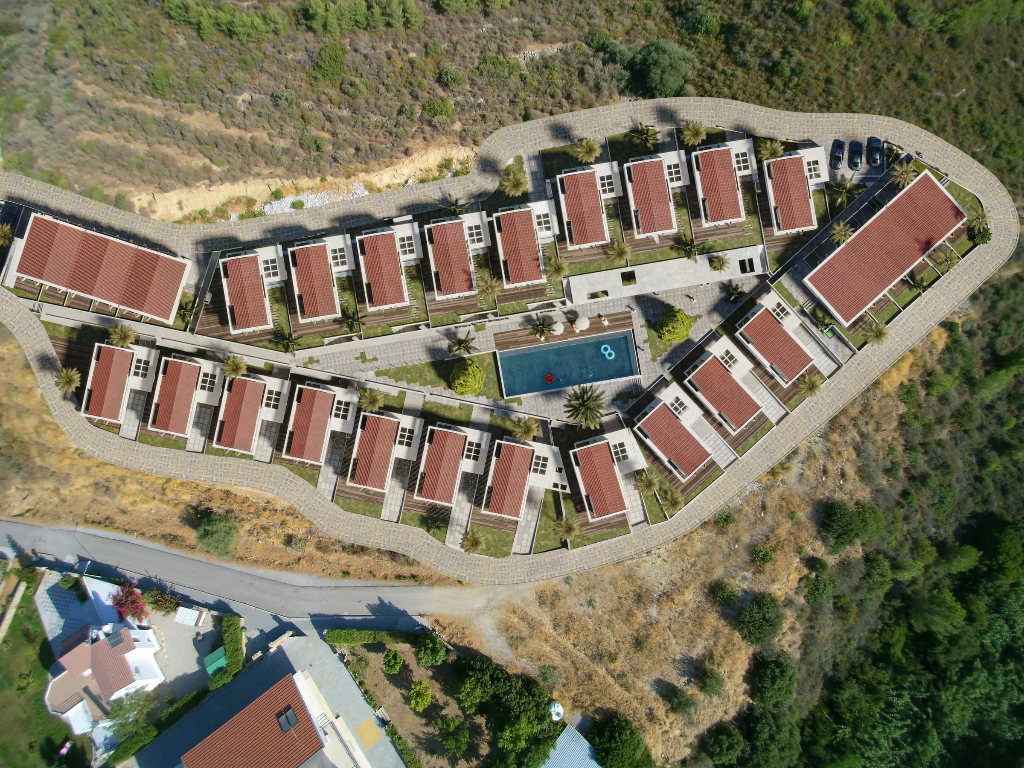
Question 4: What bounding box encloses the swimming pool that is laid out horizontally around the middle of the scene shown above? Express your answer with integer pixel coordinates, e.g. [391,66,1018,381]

[500,339,631,397]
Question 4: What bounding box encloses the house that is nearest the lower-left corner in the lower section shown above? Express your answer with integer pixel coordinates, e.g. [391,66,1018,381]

[45,621,169,753]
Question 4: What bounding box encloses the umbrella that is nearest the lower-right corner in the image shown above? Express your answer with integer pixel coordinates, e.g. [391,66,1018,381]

[549,704,564,719]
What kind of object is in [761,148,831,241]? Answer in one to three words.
house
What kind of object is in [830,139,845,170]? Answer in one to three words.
car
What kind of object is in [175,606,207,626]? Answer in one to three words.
shed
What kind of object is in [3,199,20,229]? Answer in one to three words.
car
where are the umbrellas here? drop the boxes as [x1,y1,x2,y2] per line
[576,316,590,330]
[551,322,564,335]
[549,704,564,719]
